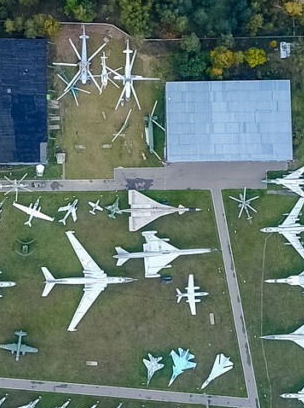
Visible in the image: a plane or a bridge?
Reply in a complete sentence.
This aerial view contains a plane.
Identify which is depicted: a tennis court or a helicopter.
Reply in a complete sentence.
It is a helicopter that can be seen here.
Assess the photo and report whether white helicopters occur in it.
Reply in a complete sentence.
Yes, the frame does contain a white helicopter.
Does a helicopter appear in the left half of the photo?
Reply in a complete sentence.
Yes, a helicopter shows up in the left half of the photo.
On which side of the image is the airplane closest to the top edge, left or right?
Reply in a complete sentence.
It is on the right.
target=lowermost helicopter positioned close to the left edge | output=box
[0,174,32,201]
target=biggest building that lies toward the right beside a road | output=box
[163,80,293,163]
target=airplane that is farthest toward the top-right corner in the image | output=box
[264,165,304,199]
